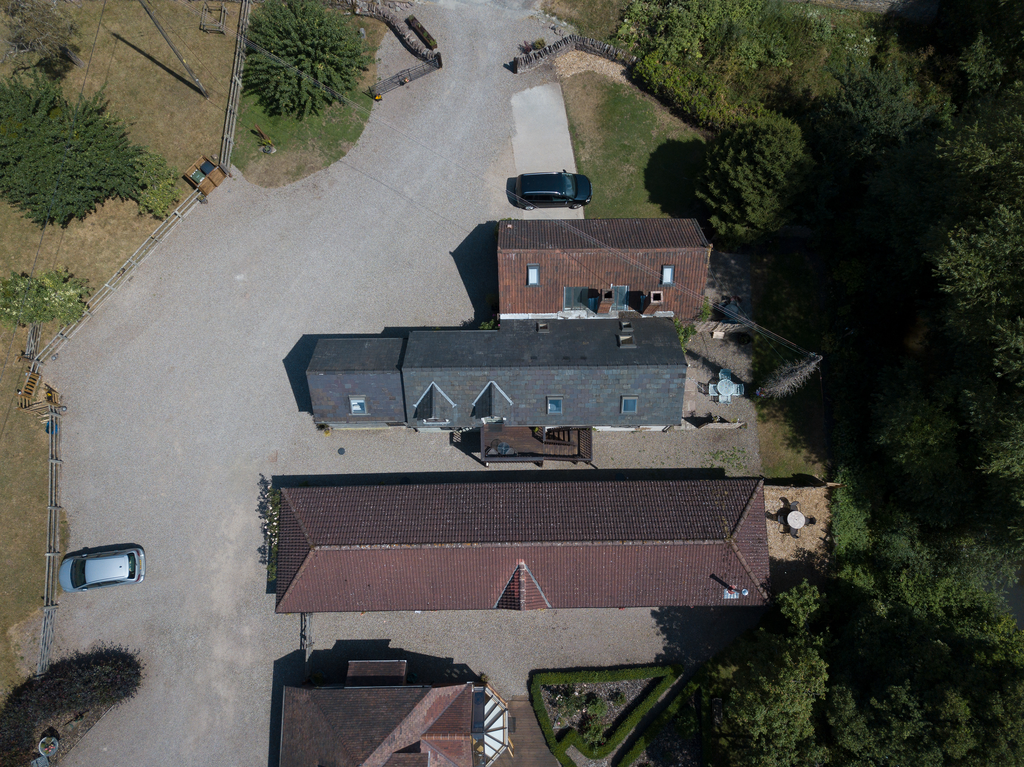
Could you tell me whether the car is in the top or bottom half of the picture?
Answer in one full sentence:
You can find the car in the bottom half.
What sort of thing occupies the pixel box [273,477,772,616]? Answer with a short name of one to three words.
house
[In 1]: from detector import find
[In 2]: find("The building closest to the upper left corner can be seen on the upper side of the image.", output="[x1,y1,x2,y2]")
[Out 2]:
[184,155,227,197]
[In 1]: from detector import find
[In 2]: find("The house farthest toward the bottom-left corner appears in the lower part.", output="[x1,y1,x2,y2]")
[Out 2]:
[279,658,478,767]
